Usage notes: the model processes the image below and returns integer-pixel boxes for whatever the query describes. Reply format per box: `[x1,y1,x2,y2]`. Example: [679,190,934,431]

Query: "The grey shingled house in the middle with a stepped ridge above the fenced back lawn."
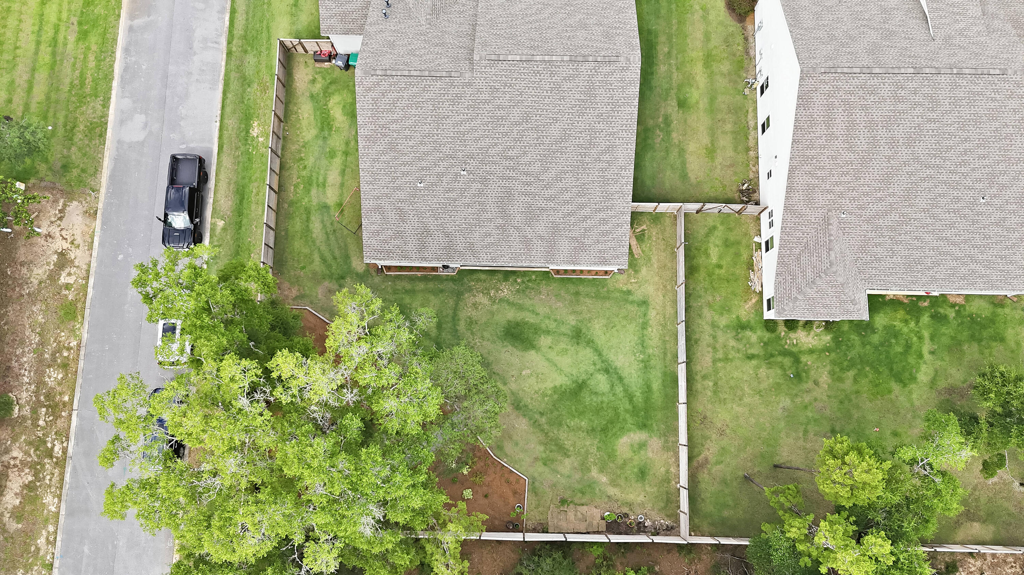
[318,0,642,276]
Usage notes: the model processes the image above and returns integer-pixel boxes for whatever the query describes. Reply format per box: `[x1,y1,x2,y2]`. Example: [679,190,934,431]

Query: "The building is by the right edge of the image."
[753,0,1024,323]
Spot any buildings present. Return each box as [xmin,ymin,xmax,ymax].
[318,0,642,276]
[753,0,1024,323]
